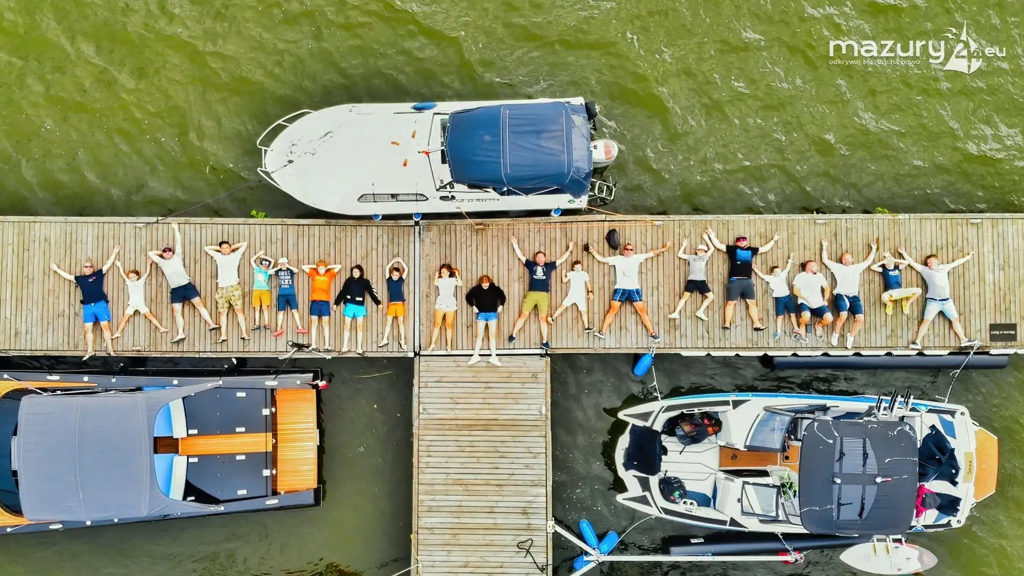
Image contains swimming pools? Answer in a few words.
No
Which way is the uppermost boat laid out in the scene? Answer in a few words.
from side to side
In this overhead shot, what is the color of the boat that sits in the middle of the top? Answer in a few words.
white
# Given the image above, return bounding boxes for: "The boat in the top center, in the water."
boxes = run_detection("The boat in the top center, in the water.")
[257,95,618,217]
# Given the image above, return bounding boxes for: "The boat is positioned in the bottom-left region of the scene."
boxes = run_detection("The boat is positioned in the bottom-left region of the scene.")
[0,368,322,534]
